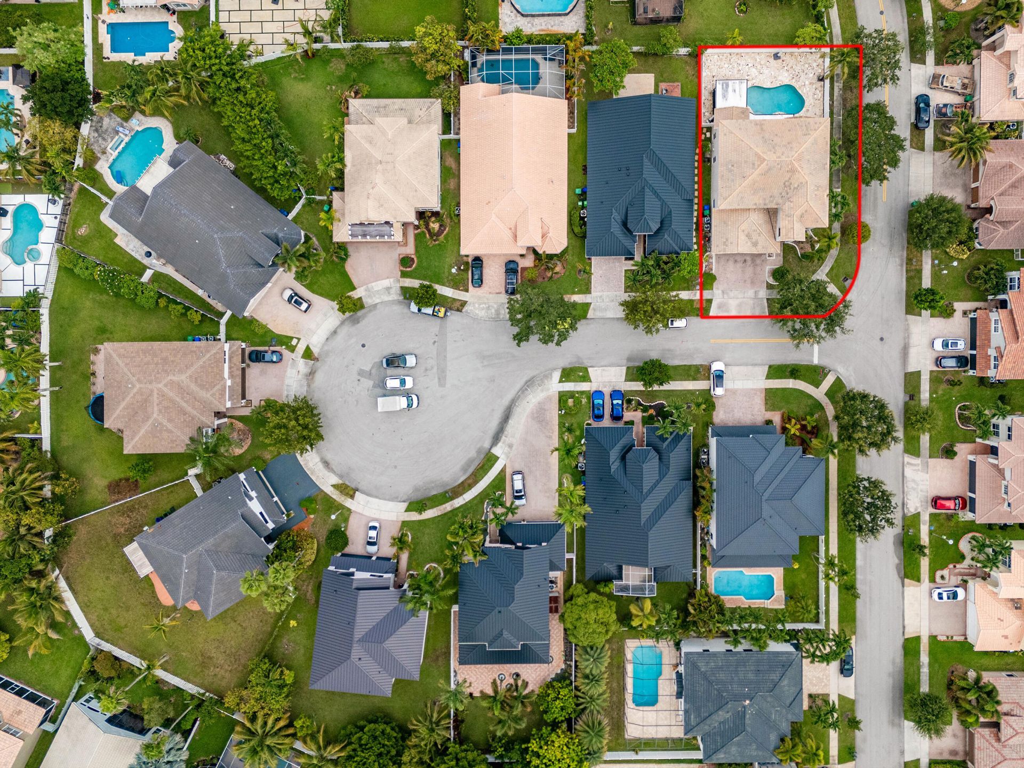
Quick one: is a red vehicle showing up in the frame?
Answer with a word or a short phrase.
Yes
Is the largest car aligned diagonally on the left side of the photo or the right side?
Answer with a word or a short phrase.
left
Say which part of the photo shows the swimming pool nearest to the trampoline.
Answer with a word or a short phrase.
left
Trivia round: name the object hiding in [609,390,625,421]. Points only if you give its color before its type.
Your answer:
blue car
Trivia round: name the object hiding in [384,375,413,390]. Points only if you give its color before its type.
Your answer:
white car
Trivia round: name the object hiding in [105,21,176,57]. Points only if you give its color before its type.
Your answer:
blue swimming pool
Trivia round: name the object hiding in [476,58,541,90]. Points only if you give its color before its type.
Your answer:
blue swimming pool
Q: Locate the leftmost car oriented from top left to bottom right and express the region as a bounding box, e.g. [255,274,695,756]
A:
[281,287,312,313]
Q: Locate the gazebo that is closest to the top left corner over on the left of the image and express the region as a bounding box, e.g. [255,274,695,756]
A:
[12,65,37,91]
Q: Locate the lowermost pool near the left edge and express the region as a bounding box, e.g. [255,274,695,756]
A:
[0,367,40,395]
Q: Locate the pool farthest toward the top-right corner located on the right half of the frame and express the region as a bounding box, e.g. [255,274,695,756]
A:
[747,83,806,115]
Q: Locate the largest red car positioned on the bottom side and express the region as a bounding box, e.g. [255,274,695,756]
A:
[930,496,965,512]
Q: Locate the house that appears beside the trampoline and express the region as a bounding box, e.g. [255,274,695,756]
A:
[103,341,248,454]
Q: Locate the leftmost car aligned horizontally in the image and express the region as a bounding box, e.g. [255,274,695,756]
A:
[250,349,281,364]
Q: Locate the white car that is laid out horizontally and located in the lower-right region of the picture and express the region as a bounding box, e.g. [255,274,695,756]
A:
[929,586,964,602]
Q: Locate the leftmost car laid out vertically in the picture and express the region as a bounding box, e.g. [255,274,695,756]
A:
[364,521,380,554]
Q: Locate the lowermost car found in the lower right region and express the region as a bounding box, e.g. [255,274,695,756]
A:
[838,646,855,677]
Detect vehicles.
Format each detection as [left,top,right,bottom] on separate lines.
[504,260,520,297]
[838,646,855,677]
[709,363,726,396]
[933,354,967,370]
[930,102,970,119]
[384,375,413,390]
[609,390,625,421]
[929,586,964,602]
[591,390,605,421]
[930,337,965,352]
[281,287,312,313]
[930,496,965,512]
[410,301,451,320]
[383,353,416,369]
[913,95,931,130]
[928,74,975,96]
[469,257,484,288]
[511,471,526,504]
[376,394,420,412]
[250,349,281,364]
[657,317,689,330]
[364,521,380,554]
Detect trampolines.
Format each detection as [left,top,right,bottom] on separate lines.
[86,394,103,423]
